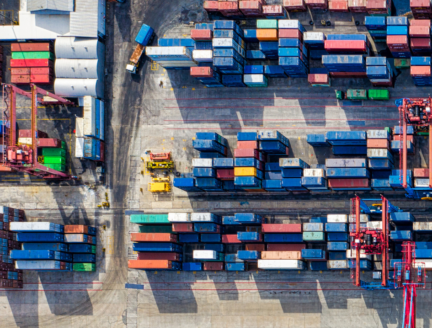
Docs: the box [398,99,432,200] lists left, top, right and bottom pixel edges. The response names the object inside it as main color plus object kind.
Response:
red container crane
